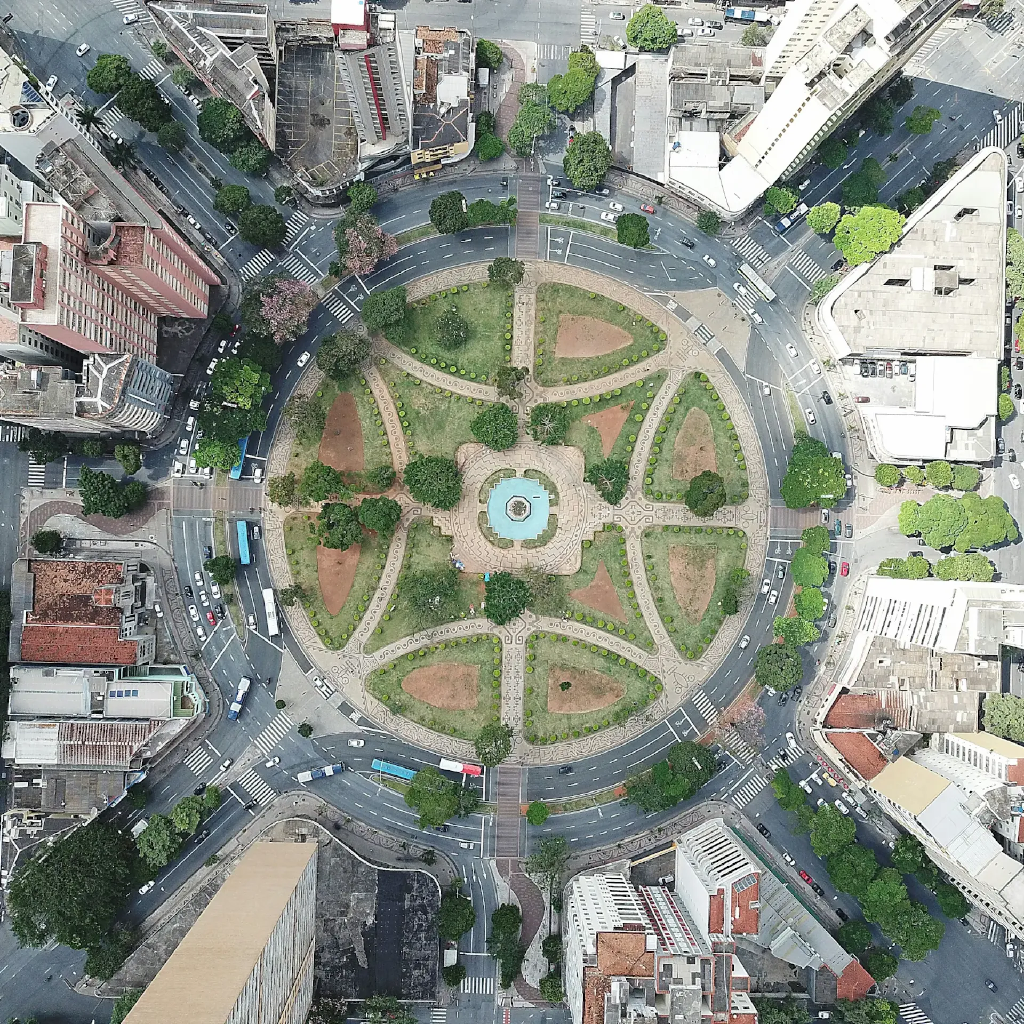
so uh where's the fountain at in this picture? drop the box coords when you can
[487,477,550,541]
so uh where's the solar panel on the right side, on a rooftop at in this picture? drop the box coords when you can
[733,874,756,893]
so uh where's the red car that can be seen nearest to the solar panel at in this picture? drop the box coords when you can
[798,868,813,884]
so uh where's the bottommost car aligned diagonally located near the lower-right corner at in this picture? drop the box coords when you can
[984,977,997,992]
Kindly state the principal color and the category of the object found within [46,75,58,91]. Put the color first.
white vehicle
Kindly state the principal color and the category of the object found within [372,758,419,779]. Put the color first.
blue bus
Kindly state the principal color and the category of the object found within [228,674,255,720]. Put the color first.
white bus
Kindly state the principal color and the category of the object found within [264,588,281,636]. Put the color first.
white vehicle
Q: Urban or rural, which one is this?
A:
urban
